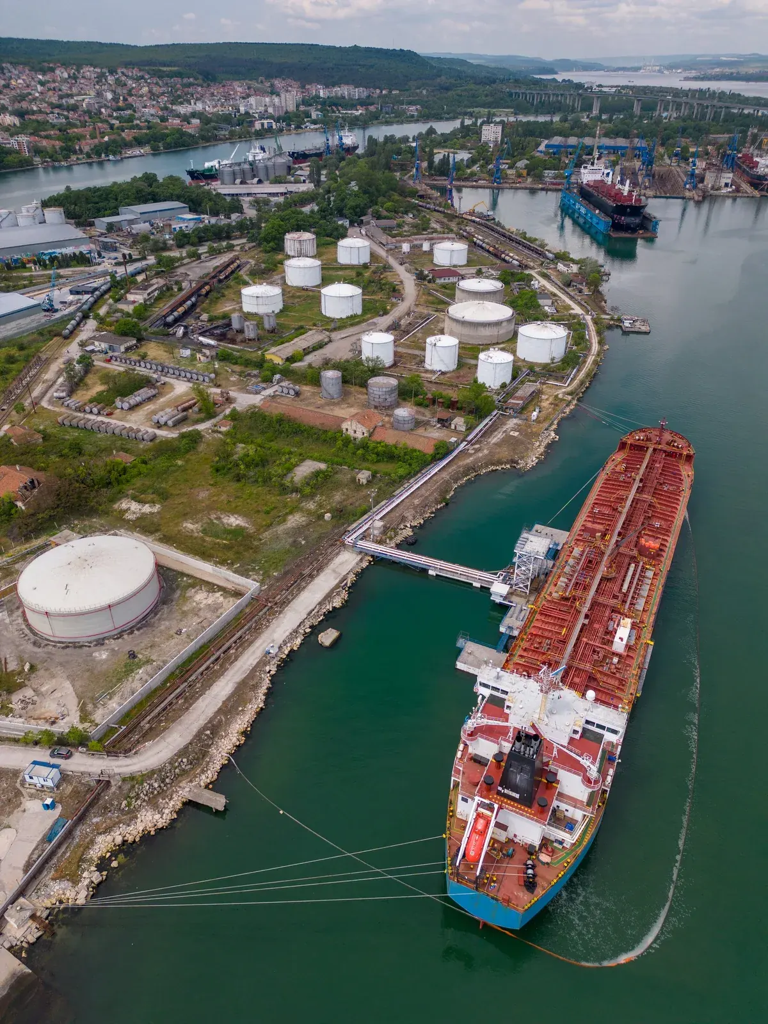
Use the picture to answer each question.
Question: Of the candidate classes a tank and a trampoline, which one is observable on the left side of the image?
tank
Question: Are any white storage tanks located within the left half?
Yes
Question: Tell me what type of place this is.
port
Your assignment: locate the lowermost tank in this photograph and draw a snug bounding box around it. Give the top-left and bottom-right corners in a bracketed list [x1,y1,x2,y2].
[16,529,170,645]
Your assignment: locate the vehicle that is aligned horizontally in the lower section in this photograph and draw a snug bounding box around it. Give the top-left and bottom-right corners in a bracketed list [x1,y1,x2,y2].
[47,747,73,759]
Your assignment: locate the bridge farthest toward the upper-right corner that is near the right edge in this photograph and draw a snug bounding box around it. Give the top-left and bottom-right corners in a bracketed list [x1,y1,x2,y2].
[493,90,768,134]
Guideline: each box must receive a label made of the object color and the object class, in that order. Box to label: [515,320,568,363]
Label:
white storage tank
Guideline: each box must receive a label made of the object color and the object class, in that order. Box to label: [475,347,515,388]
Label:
white storage tank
